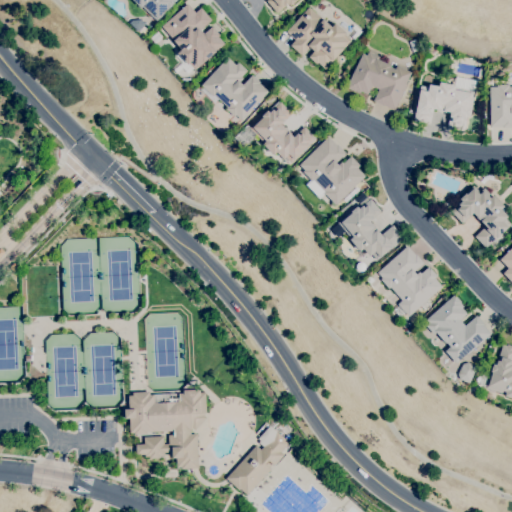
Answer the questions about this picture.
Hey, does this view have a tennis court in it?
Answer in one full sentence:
Yes, you can see a tennis court in this photo.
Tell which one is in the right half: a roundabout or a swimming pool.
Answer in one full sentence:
There is a swimming pool in the right half.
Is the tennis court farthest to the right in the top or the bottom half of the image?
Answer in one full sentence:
It is in the bottom half that the tennis court farthest to the right appears.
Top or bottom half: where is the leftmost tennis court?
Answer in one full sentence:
The leftmost tennis court is in the bottom half of the image.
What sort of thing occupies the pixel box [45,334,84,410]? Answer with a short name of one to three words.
tennis court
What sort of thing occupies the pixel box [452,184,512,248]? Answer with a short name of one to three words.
house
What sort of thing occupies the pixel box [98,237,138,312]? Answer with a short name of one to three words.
tennis court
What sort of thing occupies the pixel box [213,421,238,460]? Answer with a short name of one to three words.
swimming pool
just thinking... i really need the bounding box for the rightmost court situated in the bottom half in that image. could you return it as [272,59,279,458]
[146,313,187,390]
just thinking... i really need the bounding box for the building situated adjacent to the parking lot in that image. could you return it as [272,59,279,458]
[125,390,207,470]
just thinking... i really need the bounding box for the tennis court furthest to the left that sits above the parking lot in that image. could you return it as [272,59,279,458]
[0,308,24,381]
